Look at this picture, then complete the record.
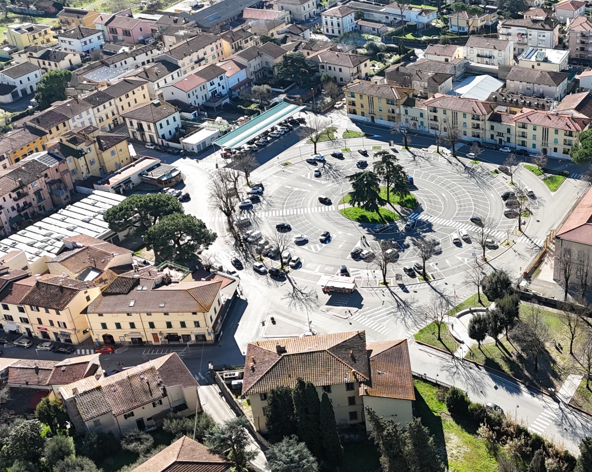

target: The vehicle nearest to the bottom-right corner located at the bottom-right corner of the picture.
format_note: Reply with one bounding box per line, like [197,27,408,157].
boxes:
[487,401,505,416]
